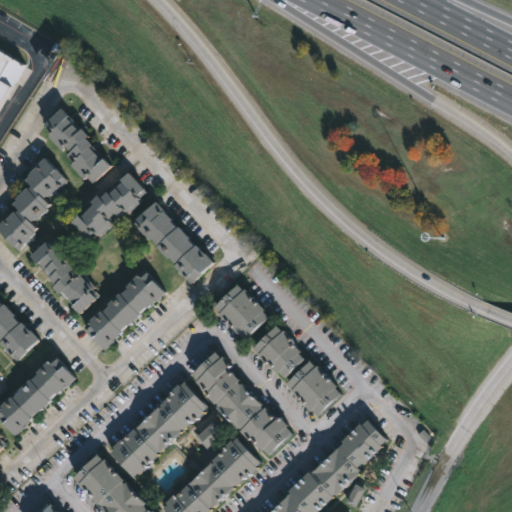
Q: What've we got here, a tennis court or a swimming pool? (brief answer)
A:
swimming pool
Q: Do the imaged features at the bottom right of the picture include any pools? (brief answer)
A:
No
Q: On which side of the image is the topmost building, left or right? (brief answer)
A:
left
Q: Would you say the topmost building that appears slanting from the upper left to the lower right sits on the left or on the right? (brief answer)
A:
left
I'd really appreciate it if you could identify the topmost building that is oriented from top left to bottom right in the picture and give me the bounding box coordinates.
[48,110,115,184]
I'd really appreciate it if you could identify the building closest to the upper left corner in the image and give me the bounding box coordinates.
[0,50,30,108]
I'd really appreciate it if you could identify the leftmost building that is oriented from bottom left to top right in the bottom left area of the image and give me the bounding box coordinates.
[0,358,78,436]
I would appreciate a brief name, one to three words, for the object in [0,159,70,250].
building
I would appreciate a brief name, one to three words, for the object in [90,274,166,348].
building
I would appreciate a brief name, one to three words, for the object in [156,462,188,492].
swimming pool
